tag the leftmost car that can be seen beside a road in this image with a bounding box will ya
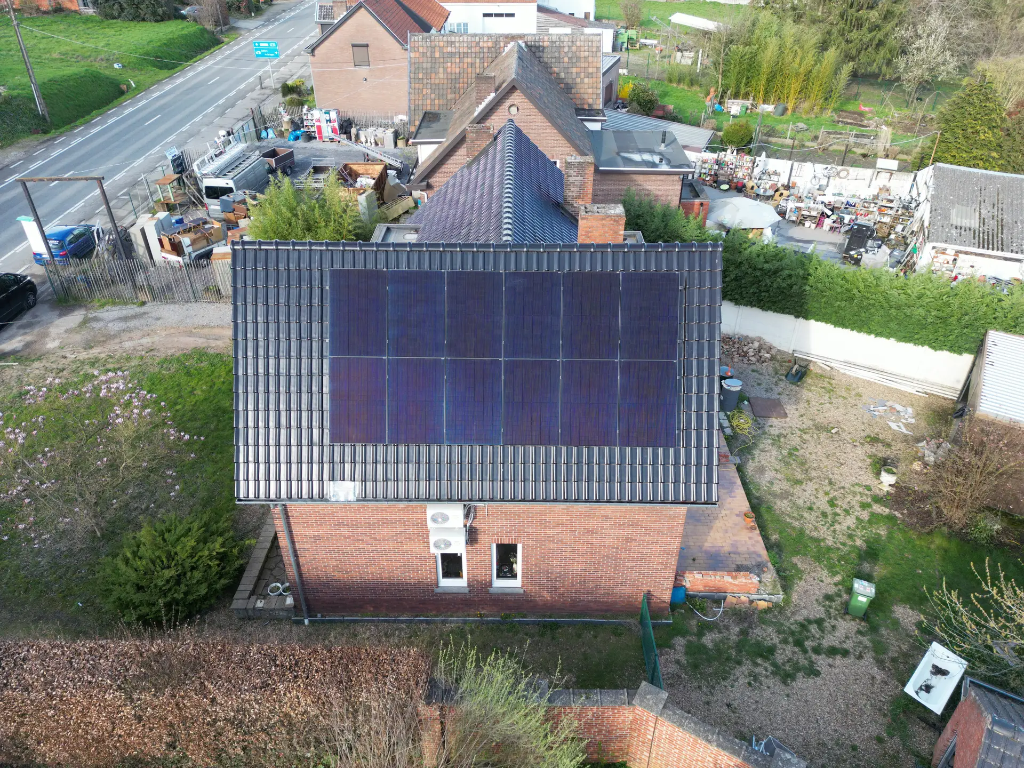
[0,278,43,326]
